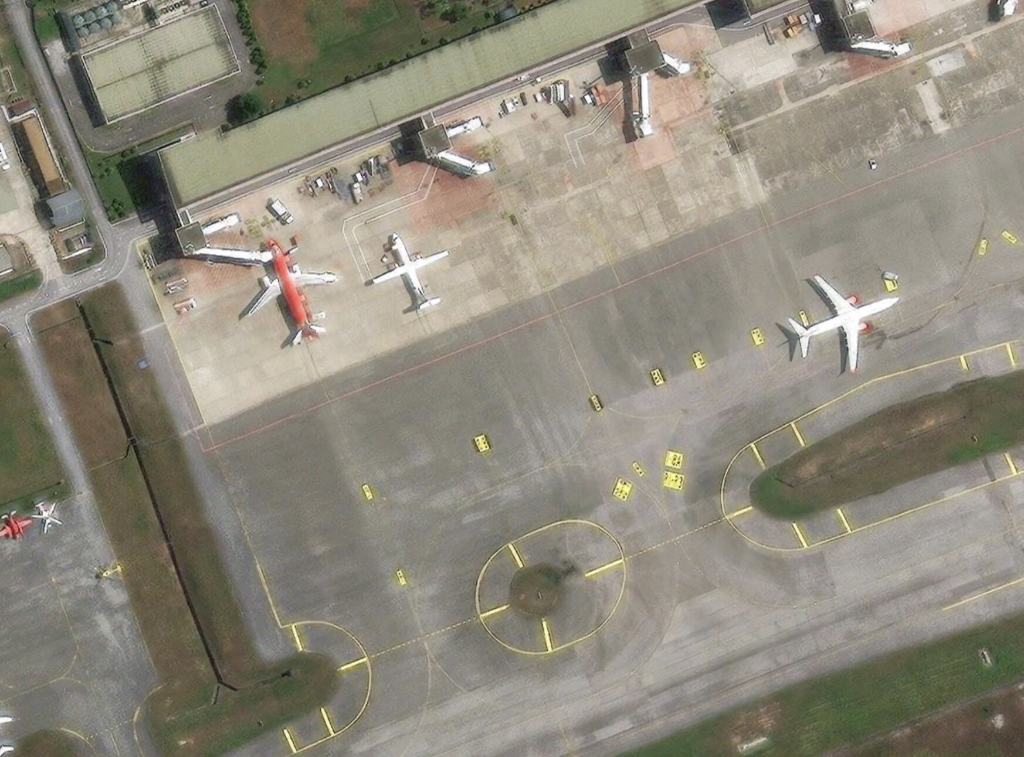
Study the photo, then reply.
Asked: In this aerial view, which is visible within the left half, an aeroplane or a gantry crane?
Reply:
aeroplane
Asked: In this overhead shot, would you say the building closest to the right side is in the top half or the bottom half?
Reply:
top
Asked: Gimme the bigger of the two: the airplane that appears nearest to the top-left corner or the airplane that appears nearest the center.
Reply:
the airplane that appears nearest to the top-left corner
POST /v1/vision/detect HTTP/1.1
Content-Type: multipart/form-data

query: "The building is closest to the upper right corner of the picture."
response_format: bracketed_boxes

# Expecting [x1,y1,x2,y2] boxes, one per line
[833,0,876,47]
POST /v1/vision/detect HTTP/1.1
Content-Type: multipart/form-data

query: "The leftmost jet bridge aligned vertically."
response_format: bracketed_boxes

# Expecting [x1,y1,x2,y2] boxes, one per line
[635,71,654,137]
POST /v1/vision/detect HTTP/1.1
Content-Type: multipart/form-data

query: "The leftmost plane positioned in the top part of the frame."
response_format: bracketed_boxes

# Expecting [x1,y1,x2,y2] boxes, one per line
[247,241,343,350]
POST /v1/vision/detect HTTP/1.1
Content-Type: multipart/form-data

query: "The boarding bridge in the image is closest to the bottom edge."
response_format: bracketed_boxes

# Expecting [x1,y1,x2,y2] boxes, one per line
[194,248,275,264]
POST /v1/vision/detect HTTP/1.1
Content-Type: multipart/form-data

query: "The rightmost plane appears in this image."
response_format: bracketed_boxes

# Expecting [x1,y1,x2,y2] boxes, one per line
[786,274,899,374]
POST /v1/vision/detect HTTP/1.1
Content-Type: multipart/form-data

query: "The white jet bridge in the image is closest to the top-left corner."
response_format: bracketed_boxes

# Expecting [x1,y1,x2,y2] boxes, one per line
[200,209,244,234]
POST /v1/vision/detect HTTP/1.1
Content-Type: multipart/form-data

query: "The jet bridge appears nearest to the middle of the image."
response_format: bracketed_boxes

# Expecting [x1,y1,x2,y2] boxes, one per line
[435,152,493,174]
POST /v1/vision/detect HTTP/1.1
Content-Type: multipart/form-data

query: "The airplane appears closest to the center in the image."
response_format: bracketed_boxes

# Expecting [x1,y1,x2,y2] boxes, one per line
[373,234,445,306]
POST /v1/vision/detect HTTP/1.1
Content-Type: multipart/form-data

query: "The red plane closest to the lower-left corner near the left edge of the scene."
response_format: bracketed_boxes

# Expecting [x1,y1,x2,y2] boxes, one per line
[0,511,33,538]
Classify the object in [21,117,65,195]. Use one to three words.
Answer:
shed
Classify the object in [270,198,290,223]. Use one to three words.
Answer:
vehicle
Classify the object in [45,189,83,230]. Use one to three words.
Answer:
building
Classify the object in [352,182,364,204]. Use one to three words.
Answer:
vehicle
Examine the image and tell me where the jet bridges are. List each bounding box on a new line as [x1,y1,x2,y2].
[661,51,693,75]
[194,248,275,264]
[200,209,244,234]
[997,0,1013,17]
[446,115,484,137]
[635,71,654,137]
[849,41,913,57]
[849,0,881,10]
[435,152,493,174]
